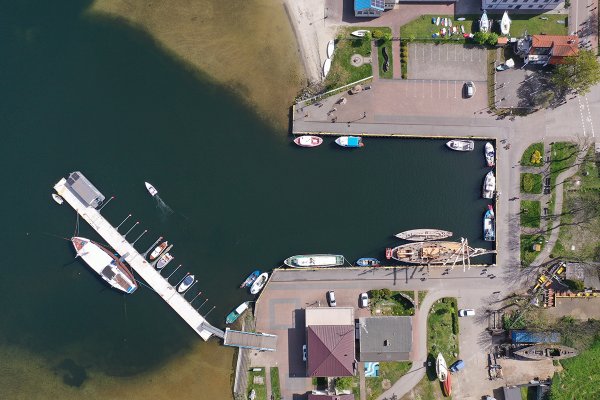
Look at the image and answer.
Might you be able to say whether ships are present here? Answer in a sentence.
Yes, you can see a ship in this photo.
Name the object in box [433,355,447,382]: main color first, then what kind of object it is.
white boat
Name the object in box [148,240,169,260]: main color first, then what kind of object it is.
white boat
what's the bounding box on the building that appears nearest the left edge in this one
[63,173,104,209]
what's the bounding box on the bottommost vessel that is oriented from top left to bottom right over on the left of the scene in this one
[59,217,156,295]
